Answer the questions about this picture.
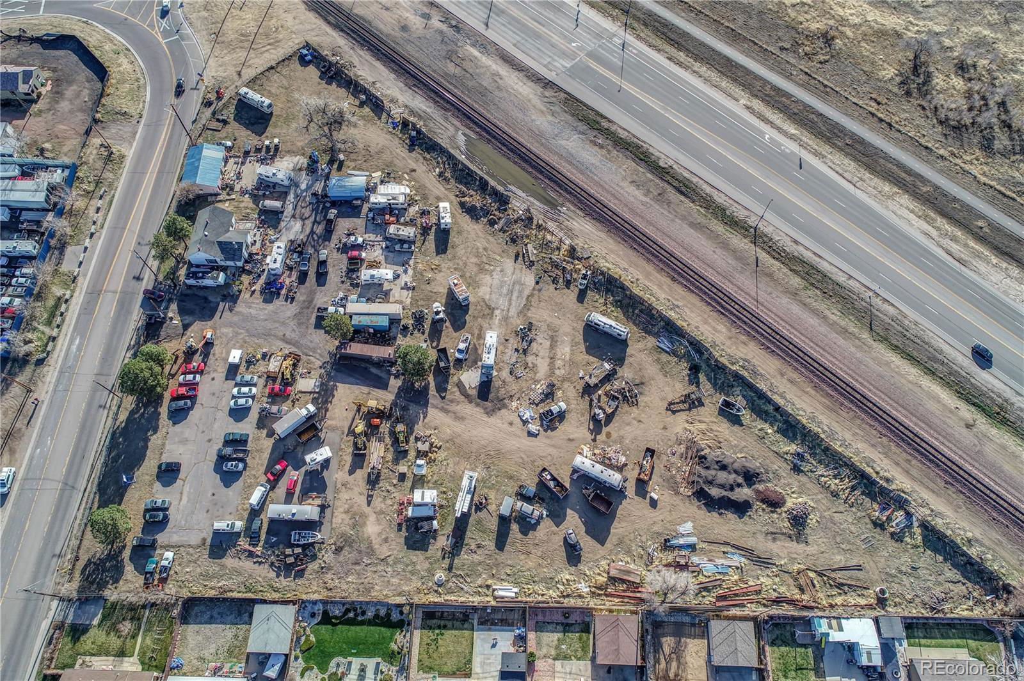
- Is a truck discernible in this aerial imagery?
Yes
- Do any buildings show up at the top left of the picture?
Yes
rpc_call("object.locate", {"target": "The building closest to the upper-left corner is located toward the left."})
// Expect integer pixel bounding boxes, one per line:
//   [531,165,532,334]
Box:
[0,71,46,101]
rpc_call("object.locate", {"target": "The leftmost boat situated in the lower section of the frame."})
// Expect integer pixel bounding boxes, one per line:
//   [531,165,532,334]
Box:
[289,530,327,545]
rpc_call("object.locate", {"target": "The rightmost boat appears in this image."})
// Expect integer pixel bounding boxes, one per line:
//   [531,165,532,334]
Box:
[718,396,744,415]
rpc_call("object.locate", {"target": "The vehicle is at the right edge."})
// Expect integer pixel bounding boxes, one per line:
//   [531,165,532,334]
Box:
[970,343,993,361]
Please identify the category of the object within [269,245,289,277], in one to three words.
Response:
vehicle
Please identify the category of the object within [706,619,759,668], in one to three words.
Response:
building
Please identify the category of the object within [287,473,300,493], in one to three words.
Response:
vehicle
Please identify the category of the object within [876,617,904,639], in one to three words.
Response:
shed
